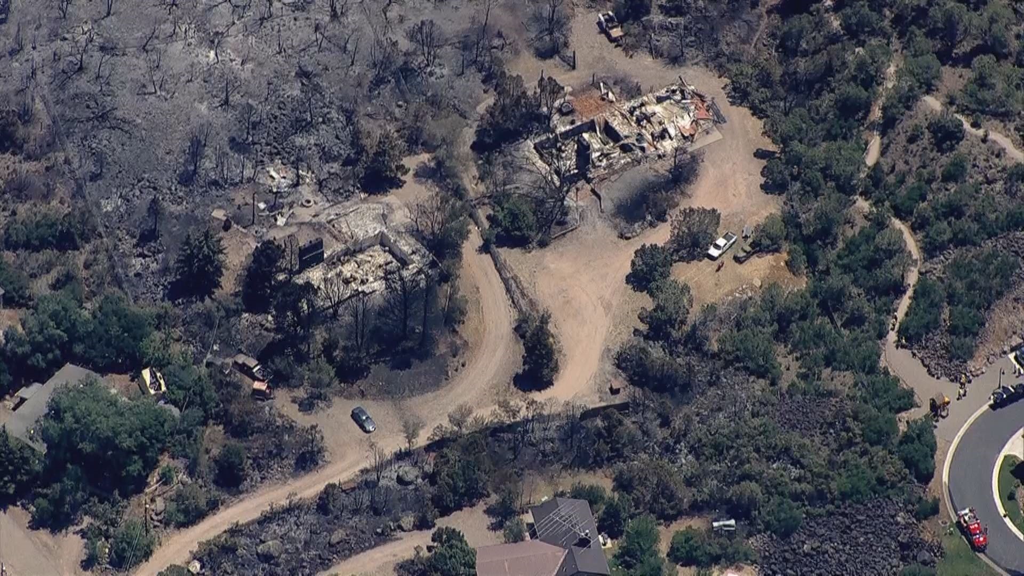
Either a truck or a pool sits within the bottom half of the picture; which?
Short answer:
truck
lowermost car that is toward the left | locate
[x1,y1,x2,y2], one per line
[349,403,378,431]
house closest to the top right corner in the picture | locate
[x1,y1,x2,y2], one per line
[518,75,723,192]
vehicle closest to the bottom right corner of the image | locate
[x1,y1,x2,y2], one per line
[957,503,991,550]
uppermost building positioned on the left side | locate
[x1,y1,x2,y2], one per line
[284,200,443,306]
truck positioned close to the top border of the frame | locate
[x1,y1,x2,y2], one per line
[594,7,626,42]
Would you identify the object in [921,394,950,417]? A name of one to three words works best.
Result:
work vehicle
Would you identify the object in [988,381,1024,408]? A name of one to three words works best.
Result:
car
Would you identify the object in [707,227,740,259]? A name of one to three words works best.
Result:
truck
